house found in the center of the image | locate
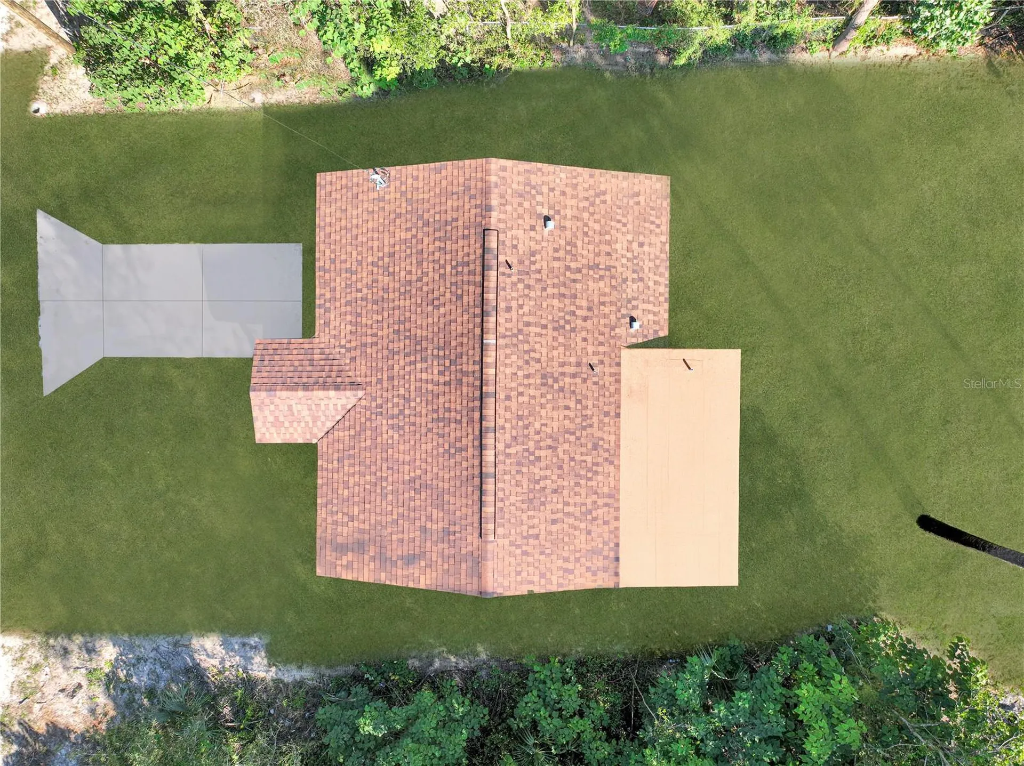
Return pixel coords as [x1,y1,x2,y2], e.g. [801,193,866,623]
[250,158,742,598]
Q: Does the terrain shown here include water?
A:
No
